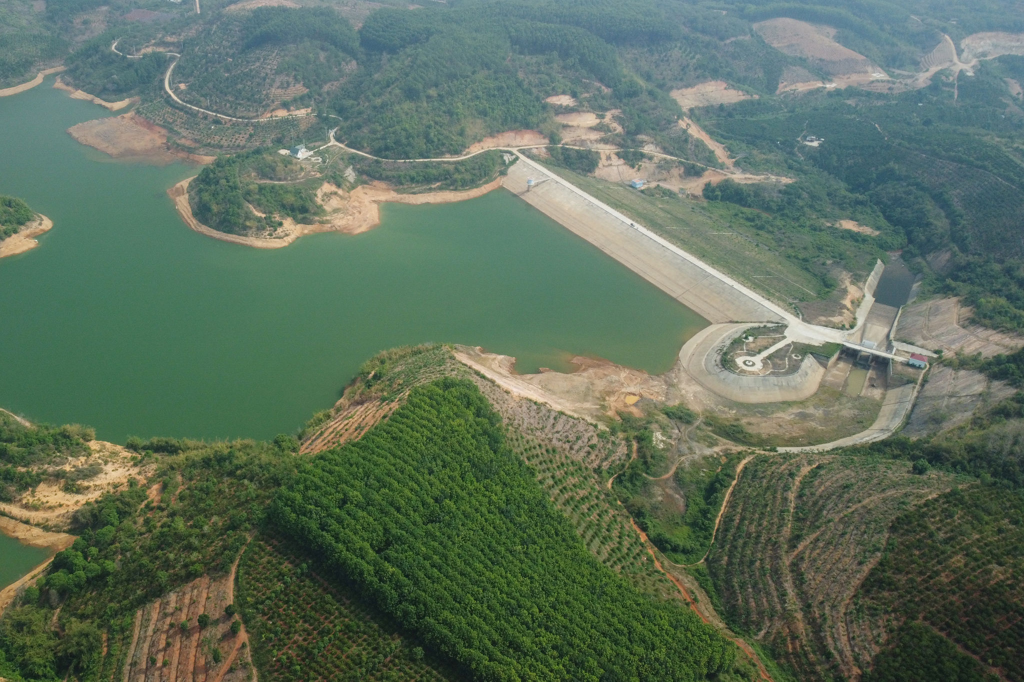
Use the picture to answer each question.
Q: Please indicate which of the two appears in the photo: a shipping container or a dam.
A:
dam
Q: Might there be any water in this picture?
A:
Yes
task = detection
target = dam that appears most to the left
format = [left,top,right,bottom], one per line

[502,157,816,324]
